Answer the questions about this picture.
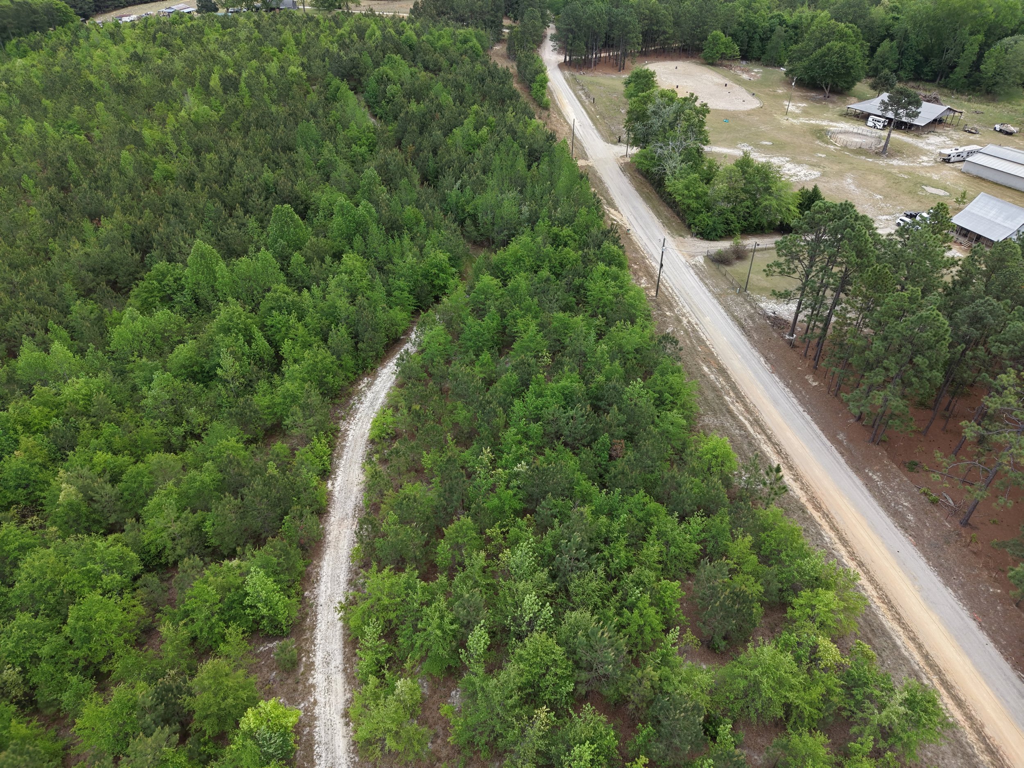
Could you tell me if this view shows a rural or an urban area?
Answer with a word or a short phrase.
rural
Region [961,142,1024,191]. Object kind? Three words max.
shed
